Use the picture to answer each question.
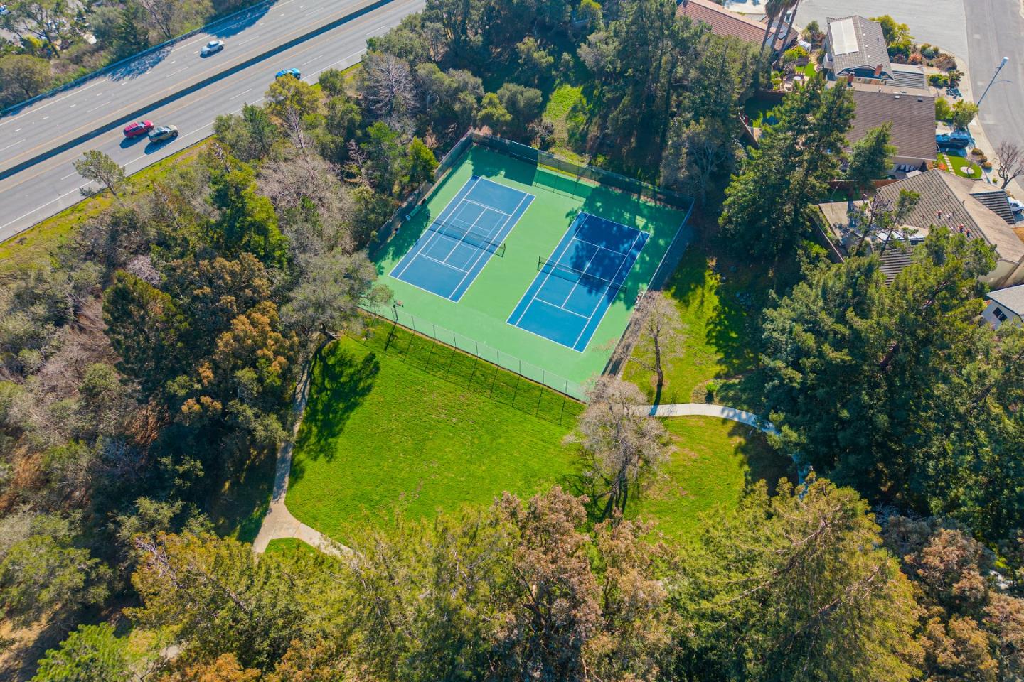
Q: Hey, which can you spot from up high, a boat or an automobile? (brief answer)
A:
automobile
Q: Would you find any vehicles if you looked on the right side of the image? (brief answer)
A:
Yes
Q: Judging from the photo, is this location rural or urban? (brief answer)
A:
rural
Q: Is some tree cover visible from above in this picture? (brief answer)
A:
Yes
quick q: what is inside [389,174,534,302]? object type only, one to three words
tennis court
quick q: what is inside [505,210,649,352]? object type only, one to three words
tennis court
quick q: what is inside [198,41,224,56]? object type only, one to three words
car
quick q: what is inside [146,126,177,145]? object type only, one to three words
car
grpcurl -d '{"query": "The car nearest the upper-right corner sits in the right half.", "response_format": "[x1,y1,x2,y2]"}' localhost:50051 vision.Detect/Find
[936,133,971,149]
